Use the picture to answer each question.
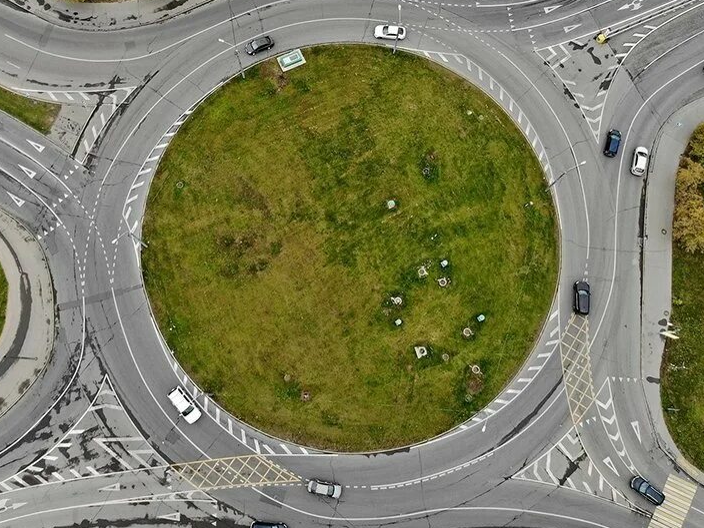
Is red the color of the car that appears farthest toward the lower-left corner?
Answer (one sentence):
No, the color of the car that appears farthest toward the lower-left corner is white.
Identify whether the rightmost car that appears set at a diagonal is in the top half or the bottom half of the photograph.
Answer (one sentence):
The rightmost car that appears set at a diagonal sits in the bottom half of the picture.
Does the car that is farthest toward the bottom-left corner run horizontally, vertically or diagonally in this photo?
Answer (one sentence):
I'd say the car that is farthest toward the bottom-left corner is aligned diagonally in the picture.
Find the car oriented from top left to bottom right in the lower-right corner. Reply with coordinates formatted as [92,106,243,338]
[629,475,667,508]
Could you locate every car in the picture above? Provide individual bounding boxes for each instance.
[602,129,622,156]
[630,145,649,177]
[168,386,198,425]
[629,475,667,508]
[573,281,591,314]
[245,36,274,57]
[374,24,406,41]
[251,520,287,528]
[308,479,342,500]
